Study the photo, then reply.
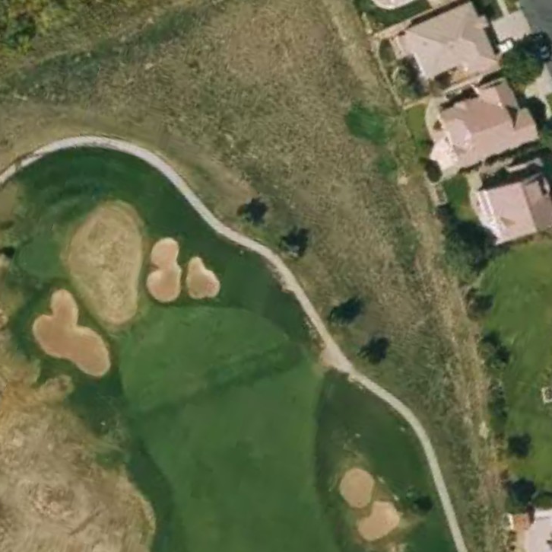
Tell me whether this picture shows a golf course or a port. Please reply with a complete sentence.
It's a golf course.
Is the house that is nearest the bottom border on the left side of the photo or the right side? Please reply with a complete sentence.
It is on the right.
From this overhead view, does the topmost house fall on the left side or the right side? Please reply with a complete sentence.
The topmost house sits on the right side.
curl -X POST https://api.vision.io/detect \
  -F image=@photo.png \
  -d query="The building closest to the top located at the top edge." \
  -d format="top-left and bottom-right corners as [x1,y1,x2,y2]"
[395,0,501,84]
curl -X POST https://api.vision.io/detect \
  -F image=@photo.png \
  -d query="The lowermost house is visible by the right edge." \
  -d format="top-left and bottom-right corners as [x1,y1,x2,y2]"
[475,175,552,243]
